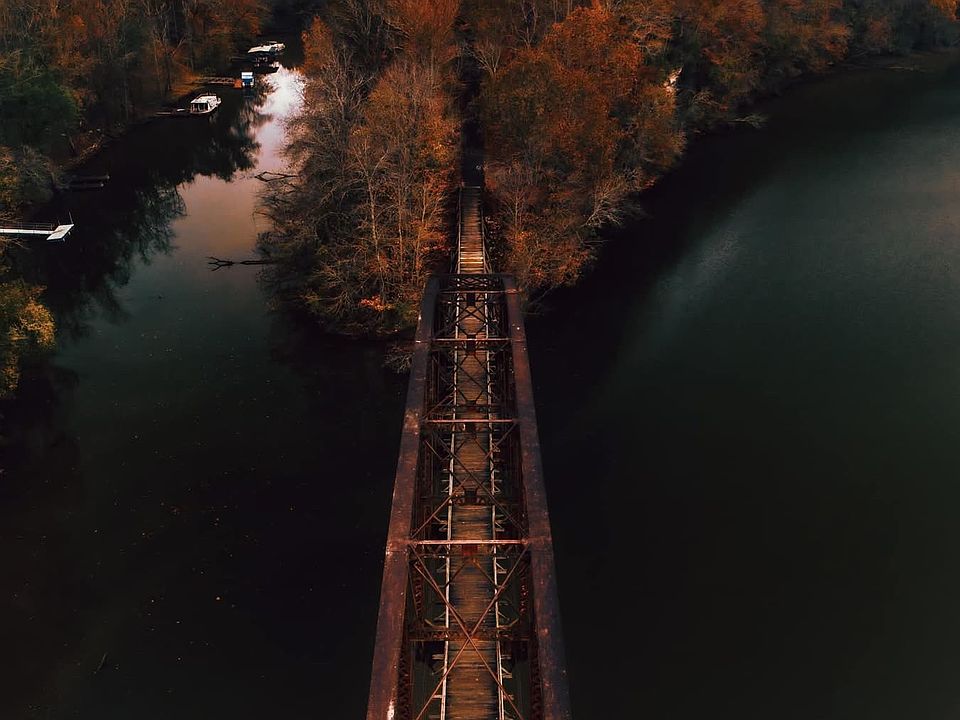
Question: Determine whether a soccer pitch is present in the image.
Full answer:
No, there appears to be no soccer pitch in this shot.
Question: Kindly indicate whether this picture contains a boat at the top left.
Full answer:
Yes, a boat shows up at the top left.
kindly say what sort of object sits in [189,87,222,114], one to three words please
boat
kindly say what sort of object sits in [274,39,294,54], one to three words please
boat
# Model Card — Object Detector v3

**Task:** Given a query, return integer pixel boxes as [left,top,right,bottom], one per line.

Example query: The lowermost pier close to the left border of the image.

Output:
[0,204,82,240]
